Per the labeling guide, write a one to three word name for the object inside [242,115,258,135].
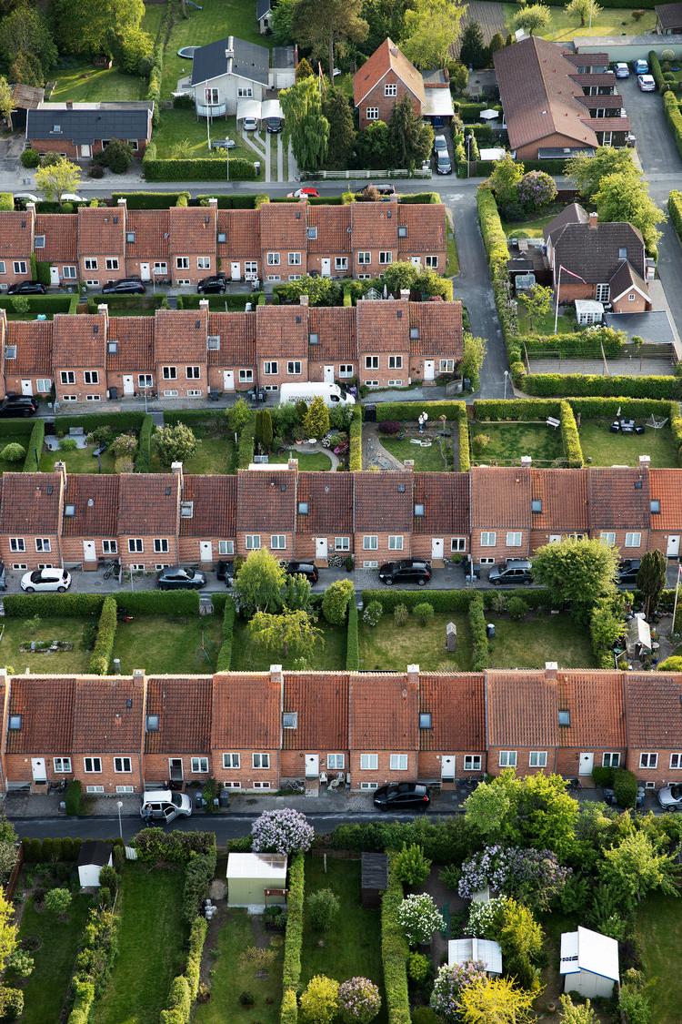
car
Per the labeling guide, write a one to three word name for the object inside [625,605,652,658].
greenhouse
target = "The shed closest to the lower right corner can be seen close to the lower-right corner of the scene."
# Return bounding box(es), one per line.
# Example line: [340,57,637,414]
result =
[551,920,617,993]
